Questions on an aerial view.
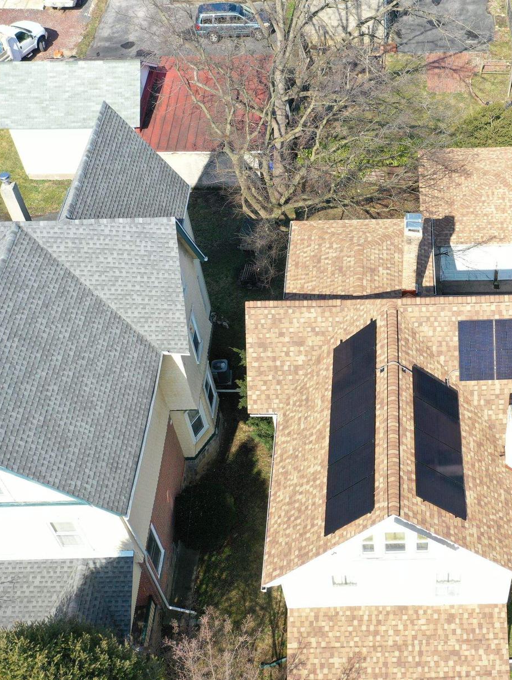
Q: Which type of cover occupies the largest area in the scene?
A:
buildings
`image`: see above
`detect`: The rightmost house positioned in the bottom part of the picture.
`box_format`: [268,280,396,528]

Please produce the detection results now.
[245,208,512,680]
